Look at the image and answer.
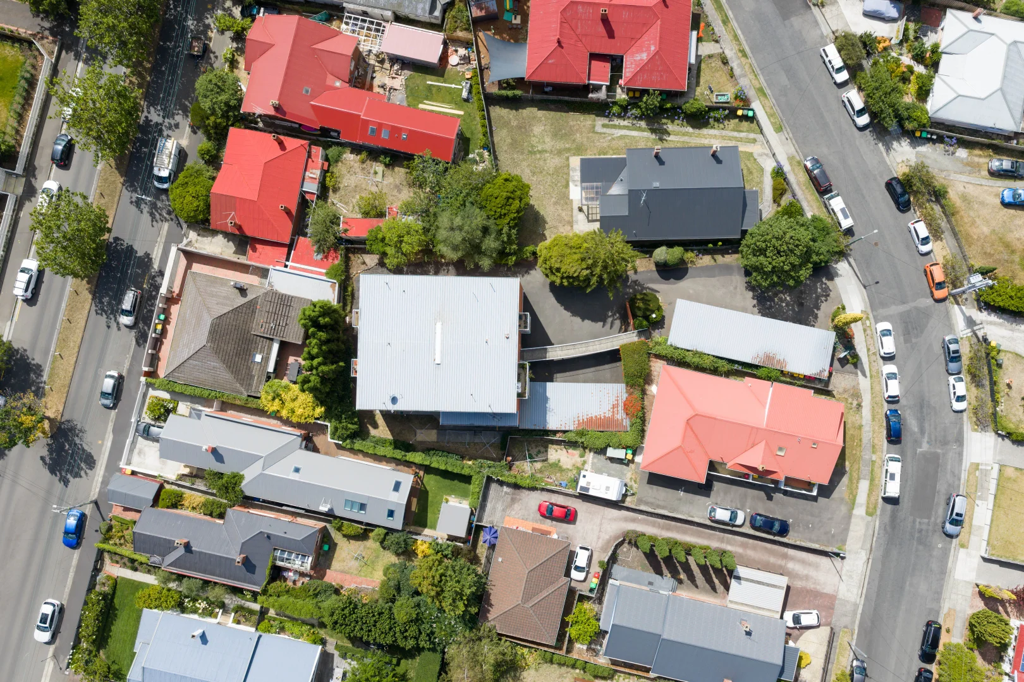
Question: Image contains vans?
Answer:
Yes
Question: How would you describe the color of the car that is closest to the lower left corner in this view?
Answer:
white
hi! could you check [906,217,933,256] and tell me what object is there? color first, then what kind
white car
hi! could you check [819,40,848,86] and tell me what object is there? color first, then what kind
white vehicle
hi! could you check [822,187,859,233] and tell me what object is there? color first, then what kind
white van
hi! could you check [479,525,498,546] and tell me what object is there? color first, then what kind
blue umbrella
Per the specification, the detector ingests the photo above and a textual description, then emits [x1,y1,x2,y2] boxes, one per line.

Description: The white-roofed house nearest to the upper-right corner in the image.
[923,5,1024,138]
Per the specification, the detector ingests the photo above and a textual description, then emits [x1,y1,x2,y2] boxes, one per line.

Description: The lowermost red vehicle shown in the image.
[537,501,577,521]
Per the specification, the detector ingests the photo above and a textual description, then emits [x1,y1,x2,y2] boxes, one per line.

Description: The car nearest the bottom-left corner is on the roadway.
[35,597,62,645]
